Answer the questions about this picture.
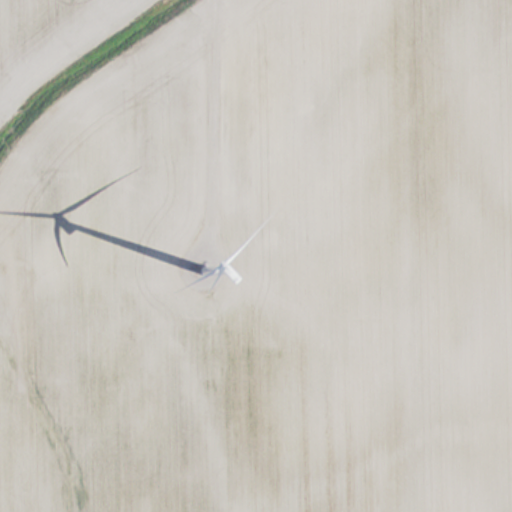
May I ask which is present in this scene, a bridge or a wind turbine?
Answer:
wind turbine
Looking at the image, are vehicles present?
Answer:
No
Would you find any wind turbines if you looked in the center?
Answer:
Yes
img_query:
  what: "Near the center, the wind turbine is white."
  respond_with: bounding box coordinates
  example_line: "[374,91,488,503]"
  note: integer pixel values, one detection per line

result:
[174,214,273,298]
